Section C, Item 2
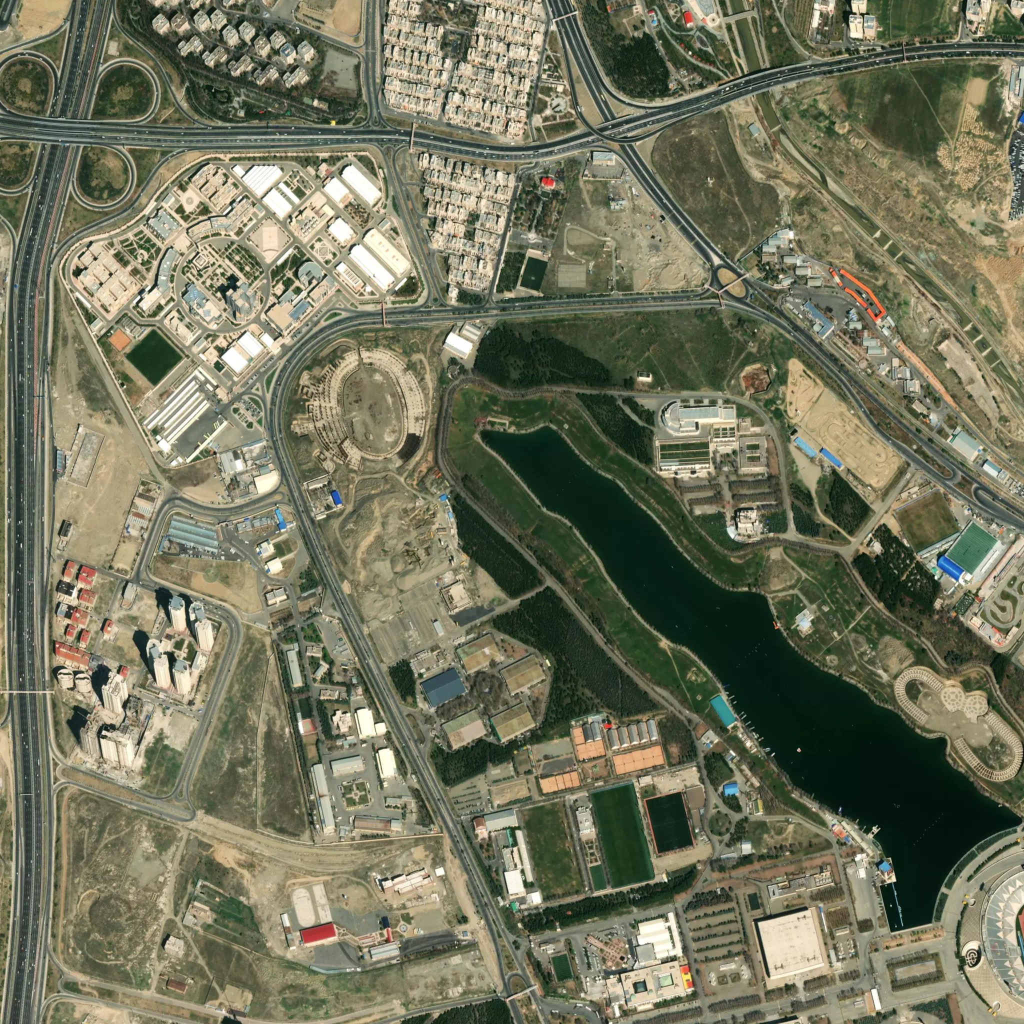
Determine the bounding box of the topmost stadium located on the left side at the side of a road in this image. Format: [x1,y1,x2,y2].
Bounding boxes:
[316,344,425,473]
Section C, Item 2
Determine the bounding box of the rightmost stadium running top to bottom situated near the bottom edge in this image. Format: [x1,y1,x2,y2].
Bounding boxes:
[980,863,1024,998]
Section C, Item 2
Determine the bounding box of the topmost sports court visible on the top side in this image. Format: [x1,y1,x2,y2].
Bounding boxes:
[558,265,586,287]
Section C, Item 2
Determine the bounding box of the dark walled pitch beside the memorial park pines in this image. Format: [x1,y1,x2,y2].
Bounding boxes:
[517,250,551,292]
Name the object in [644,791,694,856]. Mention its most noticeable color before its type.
black soccer field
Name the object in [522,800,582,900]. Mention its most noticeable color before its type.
green sports field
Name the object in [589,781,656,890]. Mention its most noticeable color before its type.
green soccer field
